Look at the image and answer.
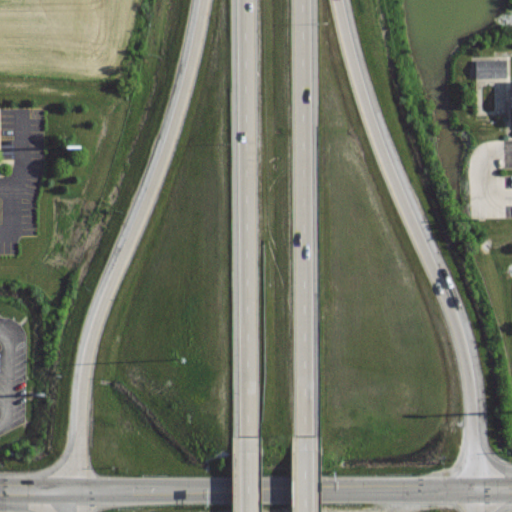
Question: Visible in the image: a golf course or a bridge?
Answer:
bridge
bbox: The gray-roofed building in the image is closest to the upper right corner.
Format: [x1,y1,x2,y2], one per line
[476,60,508,80]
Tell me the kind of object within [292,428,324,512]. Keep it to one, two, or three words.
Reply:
bridge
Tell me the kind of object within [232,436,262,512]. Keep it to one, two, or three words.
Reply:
bridge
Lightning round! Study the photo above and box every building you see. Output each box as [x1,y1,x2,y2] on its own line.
[476,60,508,80]
[494,83,512,114]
